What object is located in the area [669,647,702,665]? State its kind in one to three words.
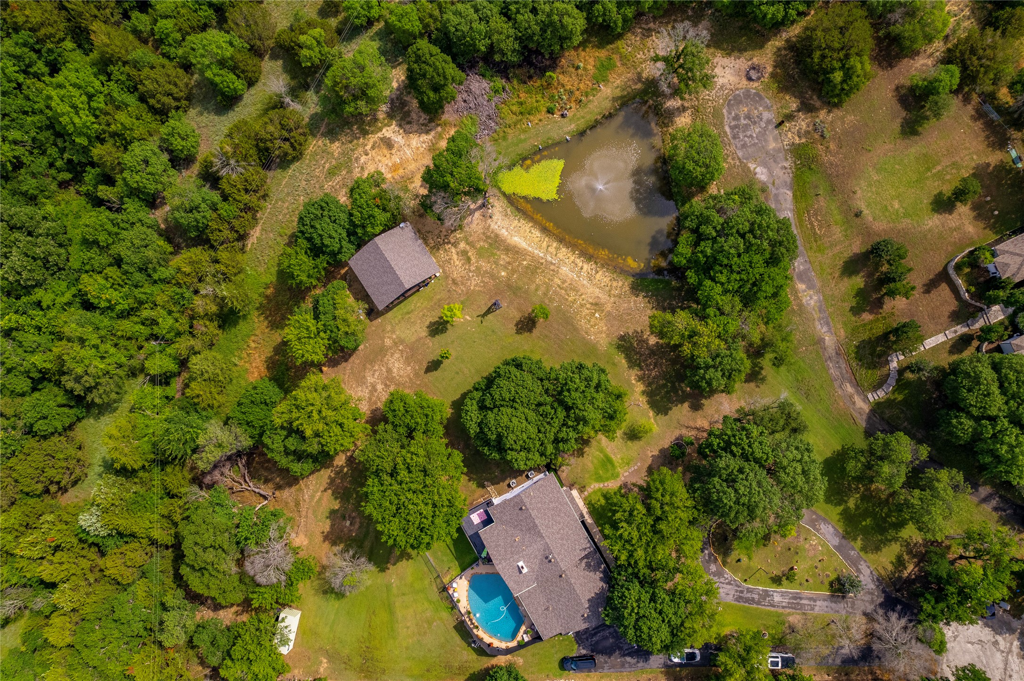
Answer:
car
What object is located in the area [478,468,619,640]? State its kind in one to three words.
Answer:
house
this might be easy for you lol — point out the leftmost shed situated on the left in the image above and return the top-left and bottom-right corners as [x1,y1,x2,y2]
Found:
[270,610,300,655]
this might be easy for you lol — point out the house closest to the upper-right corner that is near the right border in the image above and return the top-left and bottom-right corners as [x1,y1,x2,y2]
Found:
[983,233,1024,283]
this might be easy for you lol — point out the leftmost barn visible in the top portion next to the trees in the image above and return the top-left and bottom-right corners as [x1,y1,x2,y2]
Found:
[348,222,440,310]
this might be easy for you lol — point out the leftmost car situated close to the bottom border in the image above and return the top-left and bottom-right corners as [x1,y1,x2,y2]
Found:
[562,654,596,674]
